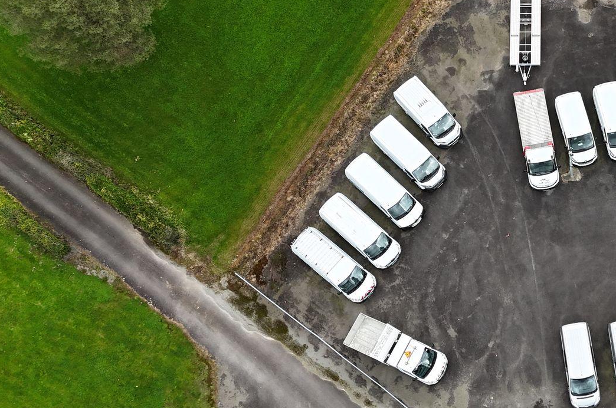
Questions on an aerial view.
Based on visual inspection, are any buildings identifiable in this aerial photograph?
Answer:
No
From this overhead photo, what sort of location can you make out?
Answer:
parking lot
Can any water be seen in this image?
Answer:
No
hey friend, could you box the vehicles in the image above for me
[512,89,562,190]
[554,92,599,169]
[372,118,444,194]
[391,75,462,151]
[592,85,616,161]
[292,229,377,305]
[560,325,603,408]
[321,195,402,271]
[348,154,425,232]
[344,313,448,386]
